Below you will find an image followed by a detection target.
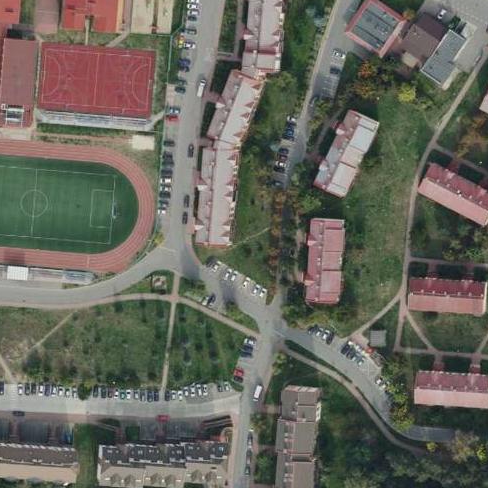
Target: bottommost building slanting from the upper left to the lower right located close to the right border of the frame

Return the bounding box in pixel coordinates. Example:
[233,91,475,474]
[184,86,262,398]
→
[418,163,488,226]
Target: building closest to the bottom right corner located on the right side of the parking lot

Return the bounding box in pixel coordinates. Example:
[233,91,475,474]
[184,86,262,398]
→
[414,370,488,410]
